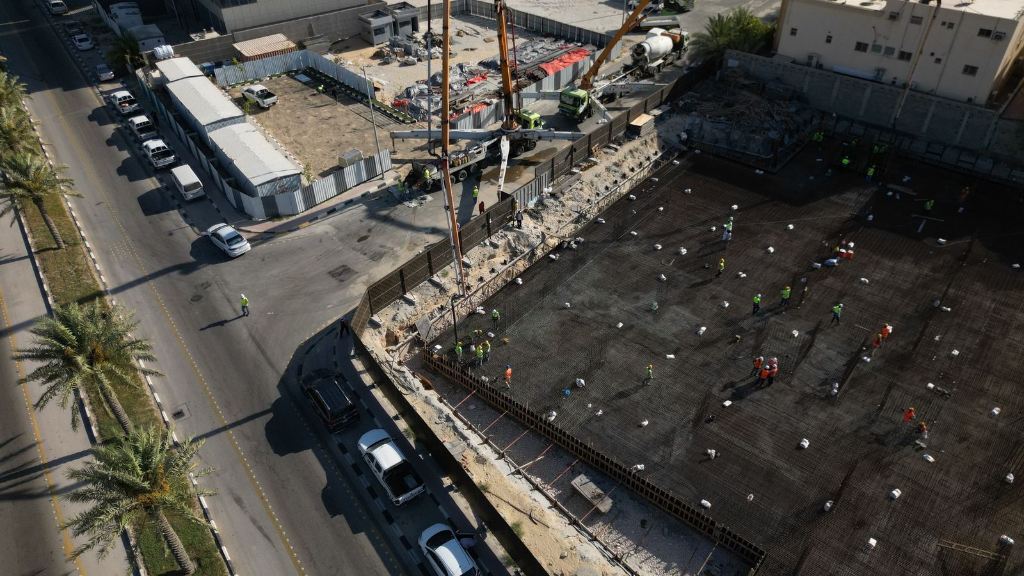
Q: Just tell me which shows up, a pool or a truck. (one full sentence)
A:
There is a truck in the scene.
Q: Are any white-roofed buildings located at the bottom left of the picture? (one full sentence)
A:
No, at the bottom left of the picture there is no white-roofed building.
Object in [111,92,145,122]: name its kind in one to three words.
truck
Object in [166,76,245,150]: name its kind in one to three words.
building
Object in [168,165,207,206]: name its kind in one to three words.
vehicle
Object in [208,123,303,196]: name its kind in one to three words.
building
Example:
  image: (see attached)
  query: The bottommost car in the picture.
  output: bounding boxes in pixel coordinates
[419,518,490,576]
